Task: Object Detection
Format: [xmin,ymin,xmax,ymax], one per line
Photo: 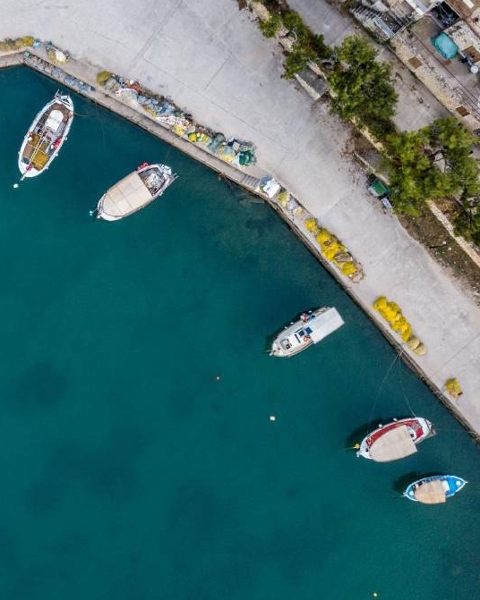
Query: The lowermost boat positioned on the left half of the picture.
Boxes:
[92,165,186,220]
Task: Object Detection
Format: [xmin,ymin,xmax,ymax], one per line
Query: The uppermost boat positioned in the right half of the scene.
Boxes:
[268,302,347,356]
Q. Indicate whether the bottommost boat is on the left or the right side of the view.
right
